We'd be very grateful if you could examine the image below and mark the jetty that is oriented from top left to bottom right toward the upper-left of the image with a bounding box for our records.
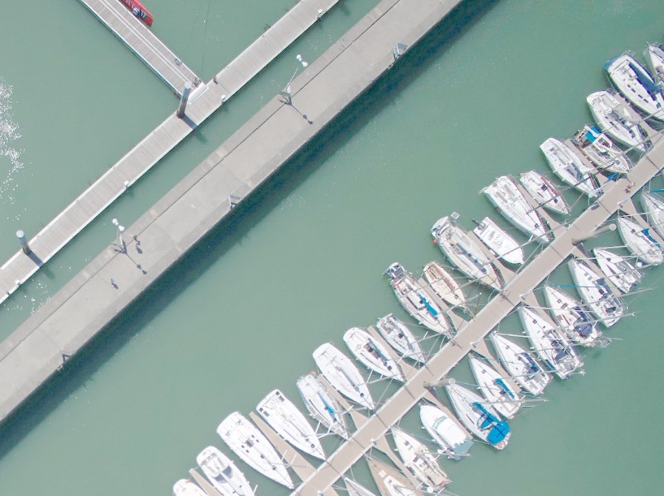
[78,0,209,104]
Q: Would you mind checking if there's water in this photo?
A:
Yes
